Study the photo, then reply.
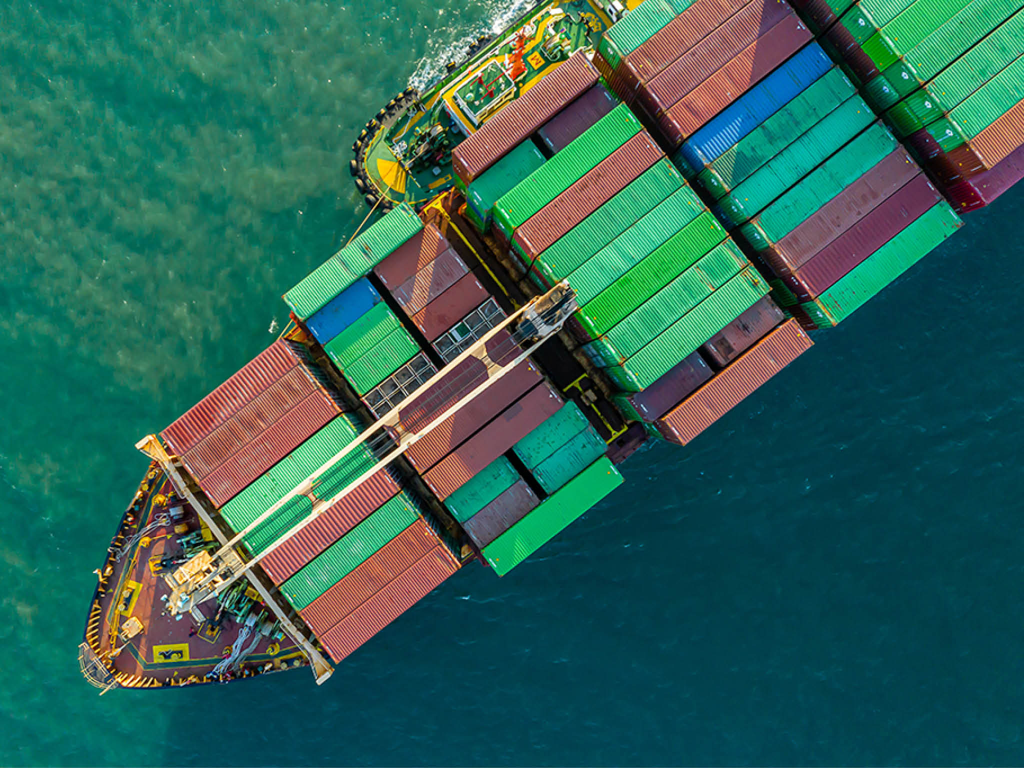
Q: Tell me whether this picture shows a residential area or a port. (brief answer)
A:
port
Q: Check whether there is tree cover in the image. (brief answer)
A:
No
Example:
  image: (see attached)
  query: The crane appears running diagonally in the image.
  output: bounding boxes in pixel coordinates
[156,277,580,627]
